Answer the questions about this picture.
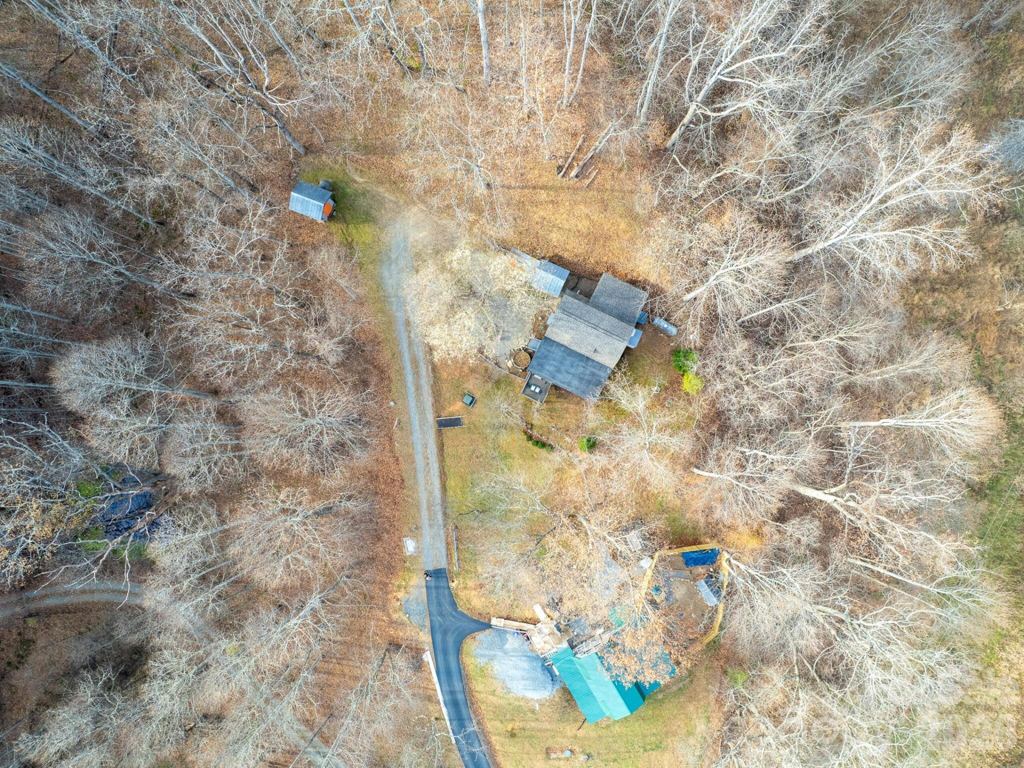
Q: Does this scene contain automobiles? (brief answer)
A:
No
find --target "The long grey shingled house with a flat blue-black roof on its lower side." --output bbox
[526,273,648,401]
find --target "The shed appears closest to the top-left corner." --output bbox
[289,181,339,224]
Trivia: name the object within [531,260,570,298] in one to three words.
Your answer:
shed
